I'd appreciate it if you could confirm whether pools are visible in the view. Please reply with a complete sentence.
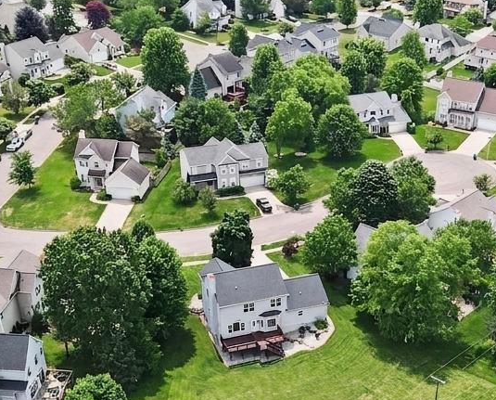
No, the frame has no pool in it.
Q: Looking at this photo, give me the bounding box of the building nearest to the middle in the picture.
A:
[182,129,271,197]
